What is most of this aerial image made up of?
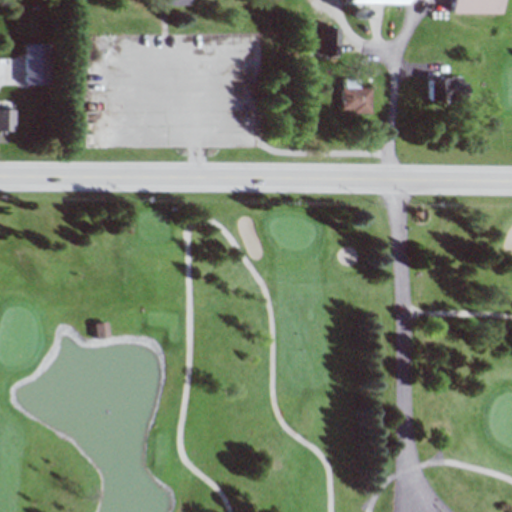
grass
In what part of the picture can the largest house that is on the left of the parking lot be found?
top left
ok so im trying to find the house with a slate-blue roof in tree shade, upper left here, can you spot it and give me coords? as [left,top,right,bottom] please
[24,45,48,88]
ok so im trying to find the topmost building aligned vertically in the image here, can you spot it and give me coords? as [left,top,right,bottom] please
[327,27,340,56]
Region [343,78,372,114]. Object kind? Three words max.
house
